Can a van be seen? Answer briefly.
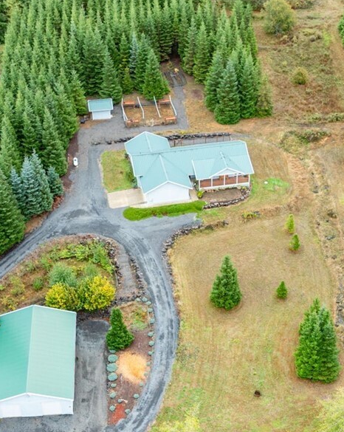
No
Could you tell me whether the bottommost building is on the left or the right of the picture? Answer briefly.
left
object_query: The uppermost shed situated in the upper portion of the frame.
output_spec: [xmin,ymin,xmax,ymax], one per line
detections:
[88,97,113,120]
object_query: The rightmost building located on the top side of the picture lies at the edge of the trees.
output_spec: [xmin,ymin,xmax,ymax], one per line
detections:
[126,132,254,203]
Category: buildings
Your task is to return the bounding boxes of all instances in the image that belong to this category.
[126,132,254,203]
[0,304,77,418]
[88,97,113,120]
